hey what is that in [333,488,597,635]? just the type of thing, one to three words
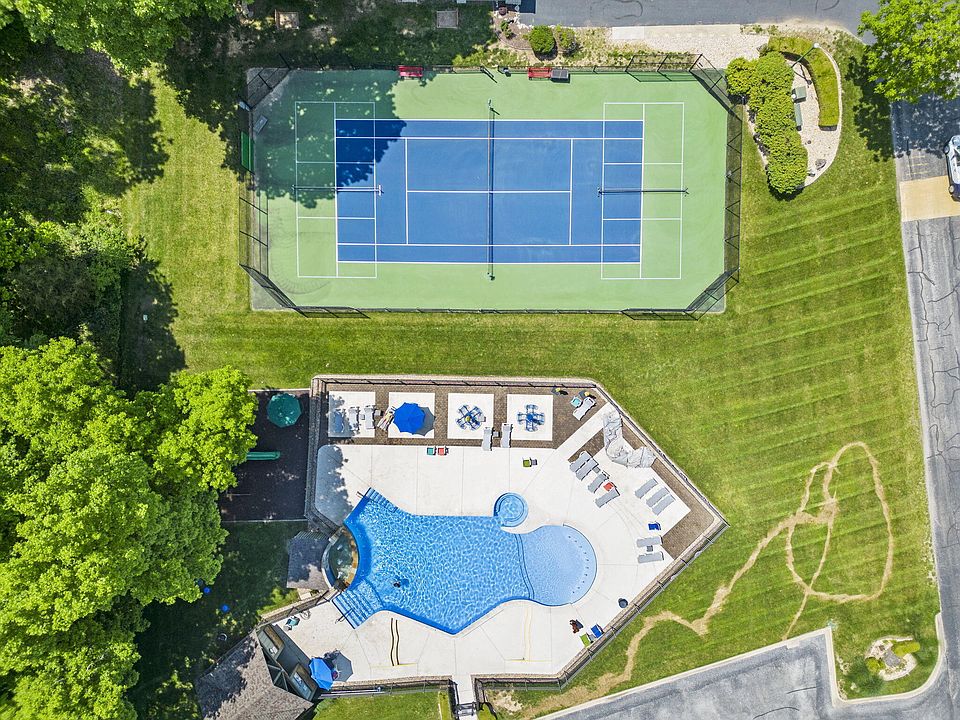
swimming pool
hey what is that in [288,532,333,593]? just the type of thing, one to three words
shed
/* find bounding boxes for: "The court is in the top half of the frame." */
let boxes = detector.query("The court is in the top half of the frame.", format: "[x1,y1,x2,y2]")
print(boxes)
[248,68,728,312]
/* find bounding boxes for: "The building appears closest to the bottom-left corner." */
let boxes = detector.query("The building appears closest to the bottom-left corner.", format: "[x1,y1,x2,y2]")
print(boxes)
[194,621,322,720]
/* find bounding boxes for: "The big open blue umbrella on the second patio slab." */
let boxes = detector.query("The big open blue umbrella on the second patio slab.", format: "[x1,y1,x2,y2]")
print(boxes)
[394,402,425,433]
